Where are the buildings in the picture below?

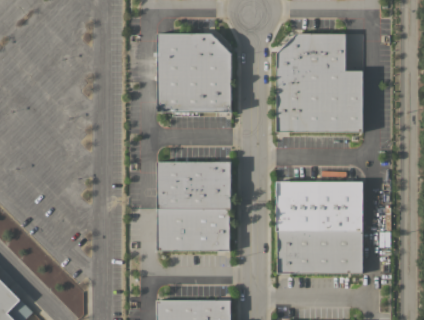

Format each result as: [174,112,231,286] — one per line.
[158,210,230,251]
[278,34,364,133]
[158,34,232,112]
[0,279,33,320]
[278,232,364,274]
[276,182,364,231]
[157,300,232,320]
[158,162,232,209]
